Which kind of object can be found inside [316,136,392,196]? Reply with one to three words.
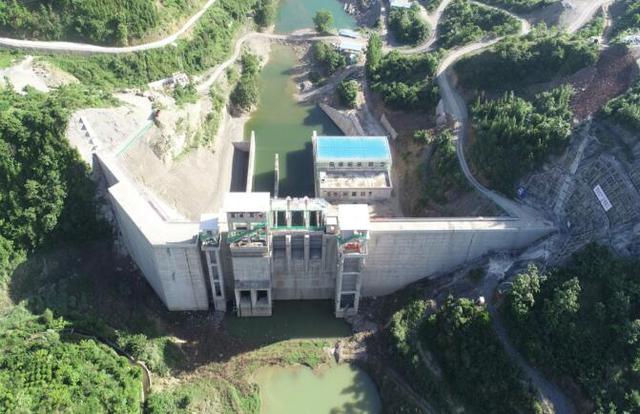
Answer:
building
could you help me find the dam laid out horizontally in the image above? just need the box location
[96,148,543,313]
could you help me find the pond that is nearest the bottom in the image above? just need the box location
[251,360,382,414]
